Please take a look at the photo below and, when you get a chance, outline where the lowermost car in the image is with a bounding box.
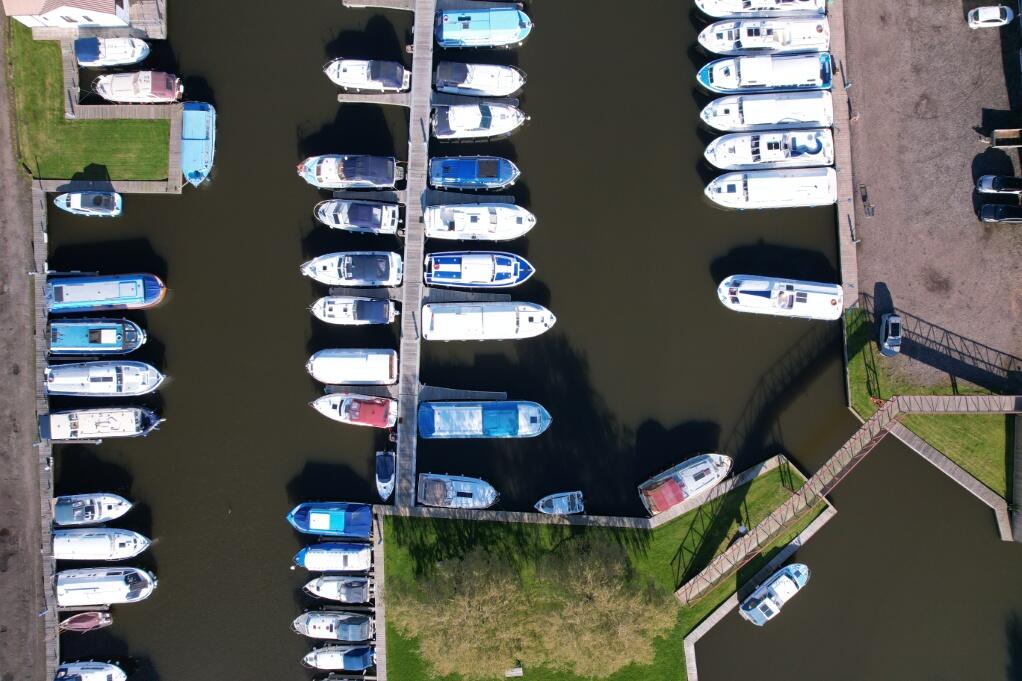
[876,315,903,357]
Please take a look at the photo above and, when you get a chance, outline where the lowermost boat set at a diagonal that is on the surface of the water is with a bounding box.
[741,565,812,625]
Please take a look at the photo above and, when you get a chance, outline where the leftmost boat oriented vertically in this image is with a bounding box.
[181,102,220,190]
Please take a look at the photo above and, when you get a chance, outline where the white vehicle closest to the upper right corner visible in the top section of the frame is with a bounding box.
[965,4,1010,31]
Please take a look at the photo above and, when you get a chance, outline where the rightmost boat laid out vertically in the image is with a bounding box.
[376,447,395,501]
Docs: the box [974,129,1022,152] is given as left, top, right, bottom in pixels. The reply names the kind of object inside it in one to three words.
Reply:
trailer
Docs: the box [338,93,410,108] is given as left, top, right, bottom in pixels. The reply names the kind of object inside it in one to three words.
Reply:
pier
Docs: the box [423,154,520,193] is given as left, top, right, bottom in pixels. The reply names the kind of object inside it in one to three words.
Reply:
boat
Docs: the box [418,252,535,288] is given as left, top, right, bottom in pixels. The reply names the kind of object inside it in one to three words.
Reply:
boat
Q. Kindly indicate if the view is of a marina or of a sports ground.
marina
